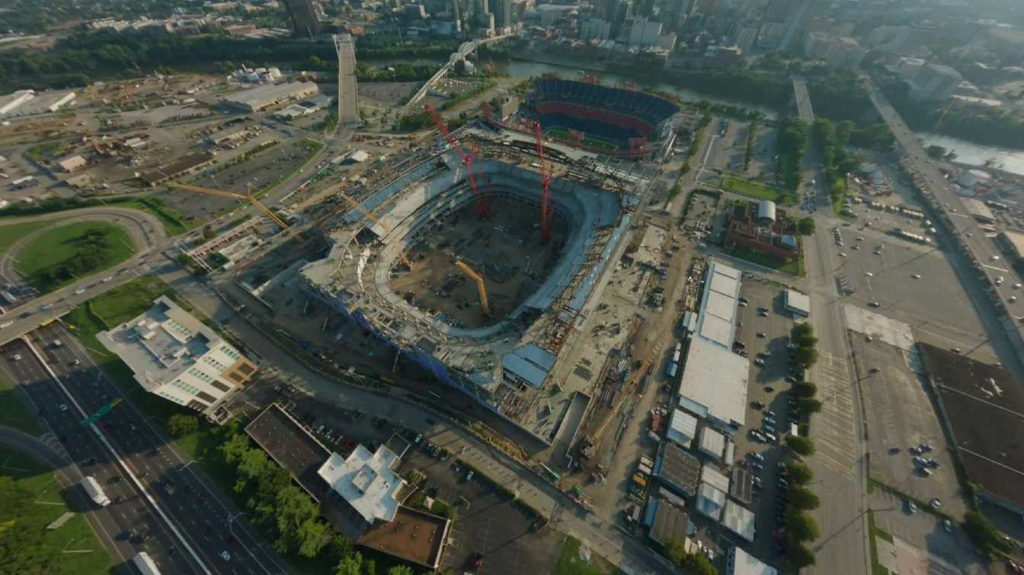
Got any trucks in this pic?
Yes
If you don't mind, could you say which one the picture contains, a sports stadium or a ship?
sports stadium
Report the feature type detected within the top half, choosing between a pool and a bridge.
bridge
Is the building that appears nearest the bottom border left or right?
right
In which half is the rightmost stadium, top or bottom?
top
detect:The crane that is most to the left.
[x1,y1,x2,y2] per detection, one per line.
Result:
[169,180,294,236]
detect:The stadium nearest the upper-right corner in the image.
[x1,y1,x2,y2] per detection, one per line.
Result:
[482,74,681,164]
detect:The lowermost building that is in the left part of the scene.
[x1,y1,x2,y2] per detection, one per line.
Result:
[355,506,453,569]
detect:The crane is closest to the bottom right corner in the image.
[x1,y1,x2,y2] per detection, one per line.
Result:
[579,362,651,458]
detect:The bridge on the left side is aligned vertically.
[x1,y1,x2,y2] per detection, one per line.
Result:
[325,24,359,120]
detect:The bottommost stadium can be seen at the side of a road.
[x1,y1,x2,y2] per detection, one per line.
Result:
[297,150,636,447]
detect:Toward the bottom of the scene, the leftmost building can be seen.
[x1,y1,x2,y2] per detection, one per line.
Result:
[96,293,260,424]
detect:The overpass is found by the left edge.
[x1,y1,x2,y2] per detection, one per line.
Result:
[0,280,94,346]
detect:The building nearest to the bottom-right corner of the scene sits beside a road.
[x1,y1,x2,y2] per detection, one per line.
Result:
[905,342,1024,521]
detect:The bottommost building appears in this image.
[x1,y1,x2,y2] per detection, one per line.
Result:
[720,547,777,575]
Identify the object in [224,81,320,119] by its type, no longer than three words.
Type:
building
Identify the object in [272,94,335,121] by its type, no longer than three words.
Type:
building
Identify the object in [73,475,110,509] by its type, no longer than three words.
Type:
truck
